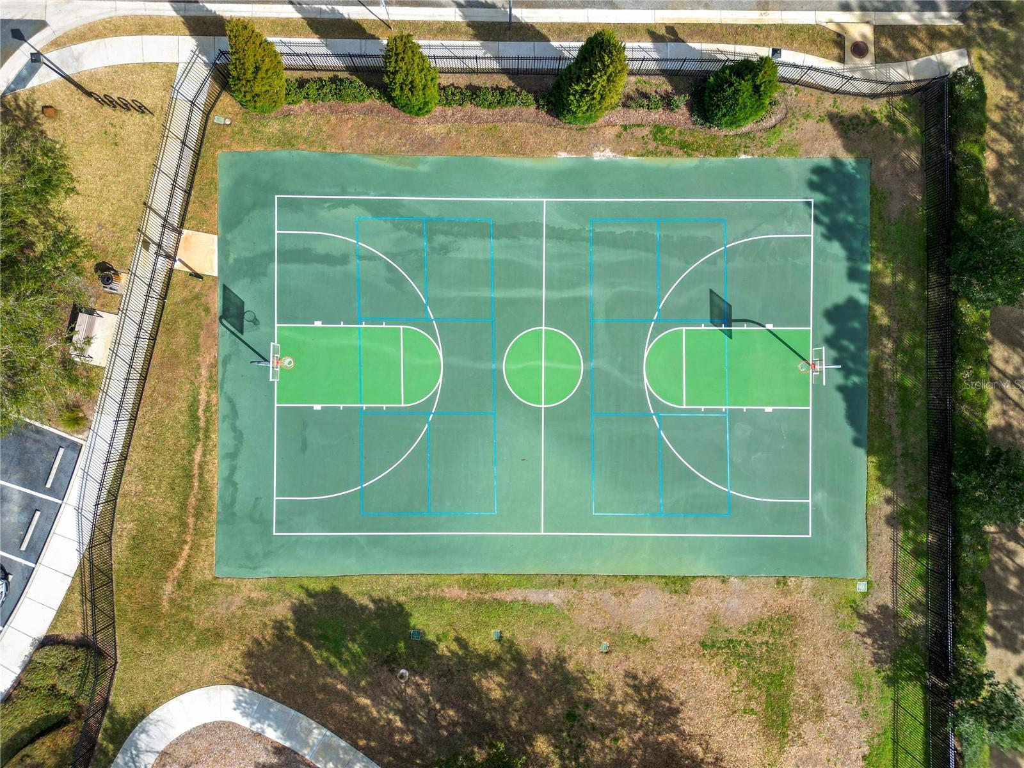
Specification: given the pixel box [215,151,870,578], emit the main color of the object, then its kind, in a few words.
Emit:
green basketball court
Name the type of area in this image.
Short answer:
sports ground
